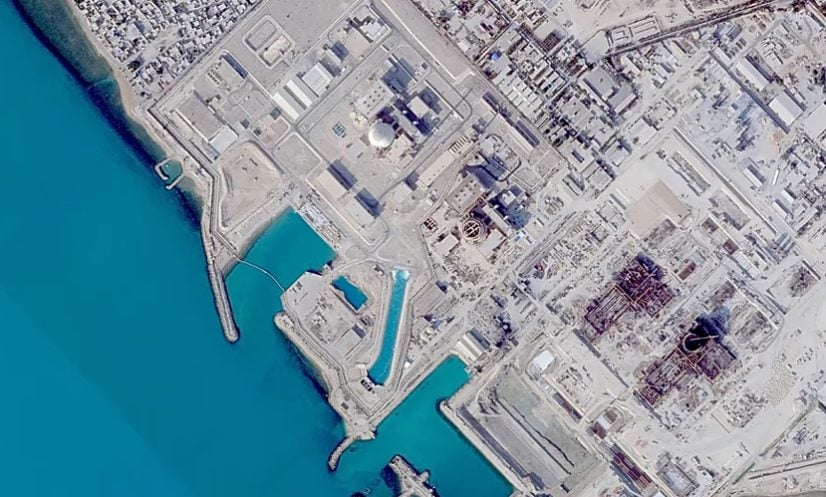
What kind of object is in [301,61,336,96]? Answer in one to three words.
hangar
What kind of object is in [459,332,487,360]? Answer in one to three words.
shed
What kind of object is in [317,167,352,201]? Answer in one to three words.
building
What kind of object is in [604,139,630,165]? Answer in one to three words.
house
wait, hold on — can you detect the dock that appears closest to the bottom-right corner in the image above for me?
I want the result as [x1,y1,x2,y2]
[390,455,437,497]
